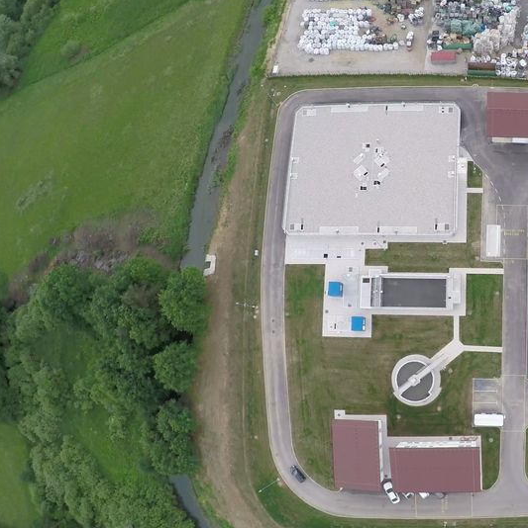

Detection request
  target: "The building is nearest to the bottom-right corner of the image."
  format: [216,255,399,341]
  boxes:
[390,443,481,493]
